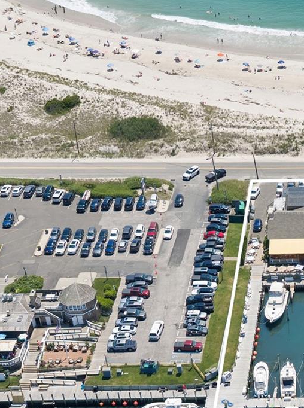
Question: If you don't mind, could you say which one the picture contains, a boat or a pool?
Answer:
boat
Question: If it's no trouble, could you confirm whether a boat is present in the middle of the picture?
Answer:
No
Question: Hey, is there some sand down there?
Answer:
Yes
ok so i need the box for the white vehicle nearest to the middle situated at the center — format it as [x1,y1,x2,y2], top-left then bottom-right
[146,194,160,209]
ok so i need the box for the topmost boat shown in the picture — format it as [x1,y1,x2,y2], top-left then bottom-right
[266,286,288,324]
